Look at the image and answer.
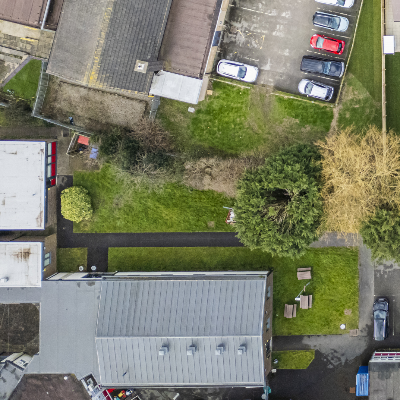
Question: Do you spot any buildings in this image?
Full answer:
Yes, the frame does contain a building.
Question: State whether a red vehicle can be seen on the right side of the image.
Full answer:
Yes, there is a red vehicle on the right side of the image.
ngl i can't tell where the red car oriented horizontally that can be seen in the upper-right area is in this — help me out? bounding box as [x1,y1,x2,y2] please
[310,34,346,55]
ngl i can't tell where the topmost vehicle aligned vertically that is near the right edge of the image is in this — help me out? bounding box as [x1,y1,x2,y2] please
[372,297,390,341]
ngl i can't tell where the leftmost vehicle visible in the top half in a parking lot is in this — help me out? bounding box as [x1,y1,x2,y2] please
[217,59,260,82]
